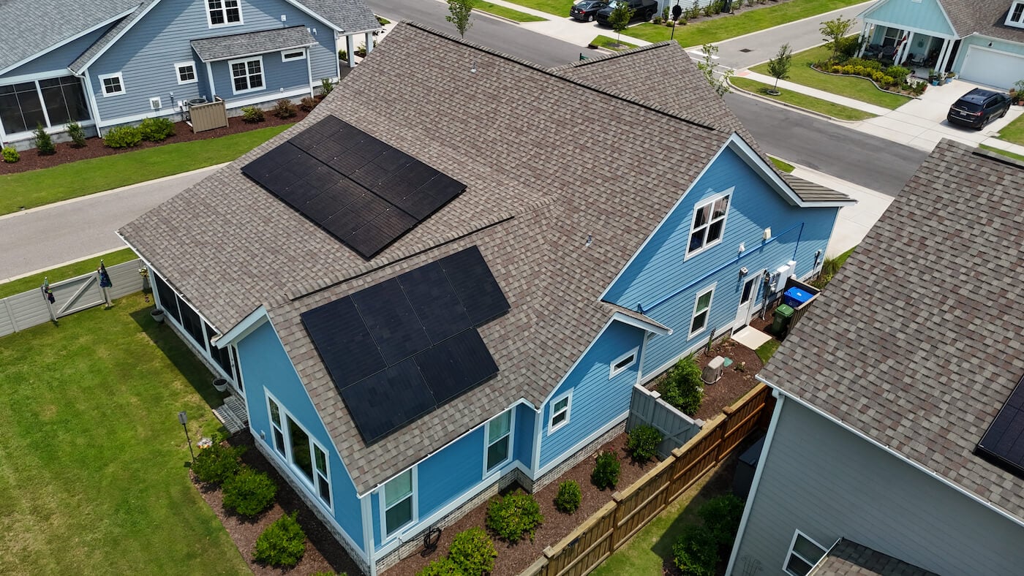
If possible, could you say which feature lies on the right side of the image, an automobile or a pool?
automobile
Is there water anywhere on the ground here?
No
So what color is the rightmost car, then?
black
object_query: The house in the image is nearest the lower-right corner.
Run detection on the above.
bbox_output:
[724,136,1024,576]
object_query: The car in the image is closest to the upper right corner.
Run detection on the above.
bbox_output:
[948,85,1013,126]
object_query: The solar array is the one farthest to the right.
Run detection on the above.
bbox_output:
[974,374,1024,479]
